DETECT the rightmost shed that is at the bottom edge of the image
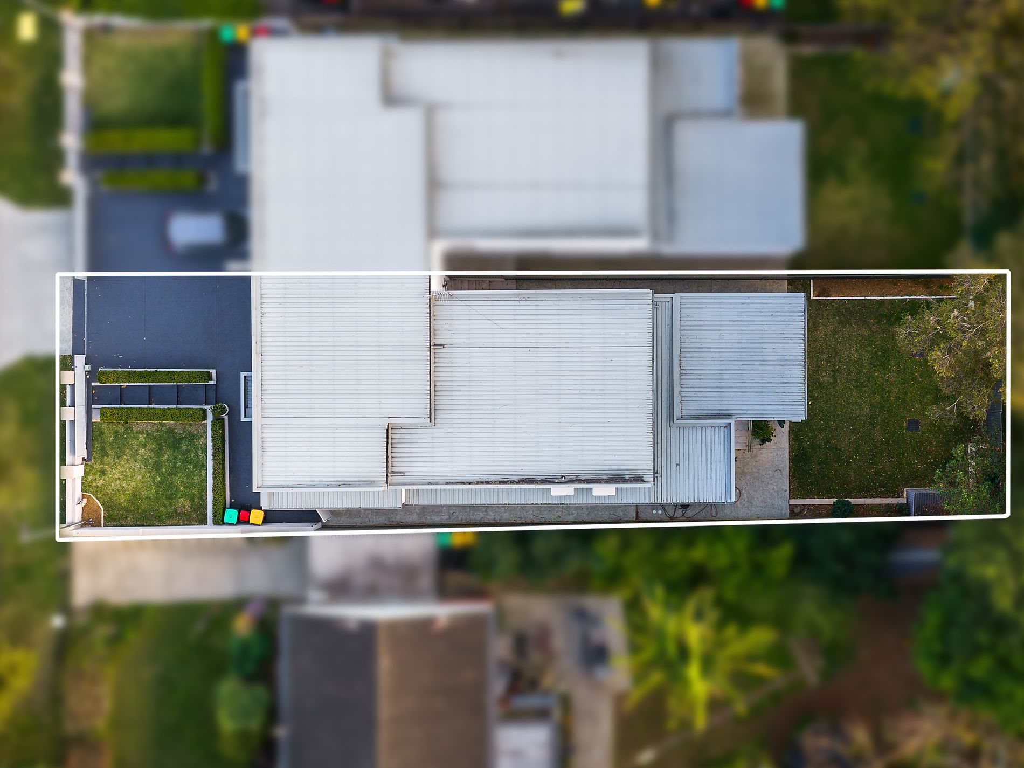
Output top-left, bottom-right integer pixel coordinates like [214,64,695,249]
[497,703,557,768]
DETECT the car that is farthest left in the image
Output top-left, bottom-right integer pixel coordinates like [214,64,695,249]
[171,206,252,259]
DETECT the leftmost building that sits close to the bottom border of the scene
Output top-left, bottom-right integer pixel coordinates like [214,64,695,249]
[281,581,490,768]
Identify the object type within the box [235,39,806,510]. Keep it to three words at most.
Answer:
house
